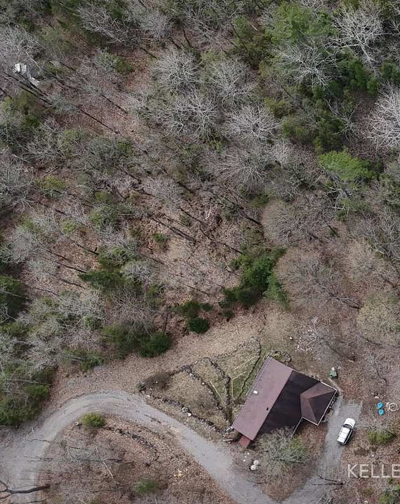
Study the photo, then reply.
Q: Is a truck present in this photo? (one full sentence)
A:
No, there isn't any truck down there.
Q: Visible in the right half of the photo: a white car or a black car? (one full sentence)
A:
Visible in the right half of the photo is a white car.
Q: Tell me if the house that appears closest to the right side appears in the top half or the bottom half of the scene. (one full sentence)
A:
The house that appears closest to the right side is in the bottom half of the image.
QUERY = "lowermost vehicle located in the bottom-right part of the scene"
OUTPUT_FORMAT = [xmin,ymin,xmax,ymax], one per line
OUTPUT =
[332,417,358,449]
